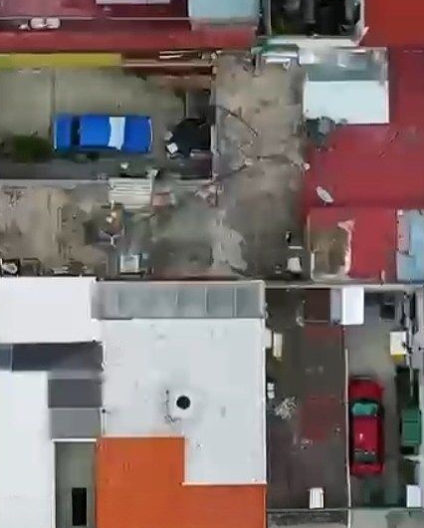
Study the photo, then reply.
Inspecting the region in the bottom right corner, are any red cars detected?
Yes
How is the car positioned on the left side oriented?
from side to side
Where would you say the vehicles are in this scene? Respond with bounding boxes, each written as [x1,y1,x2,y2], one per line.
[347,377,387,479]
[51,111,154,155]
